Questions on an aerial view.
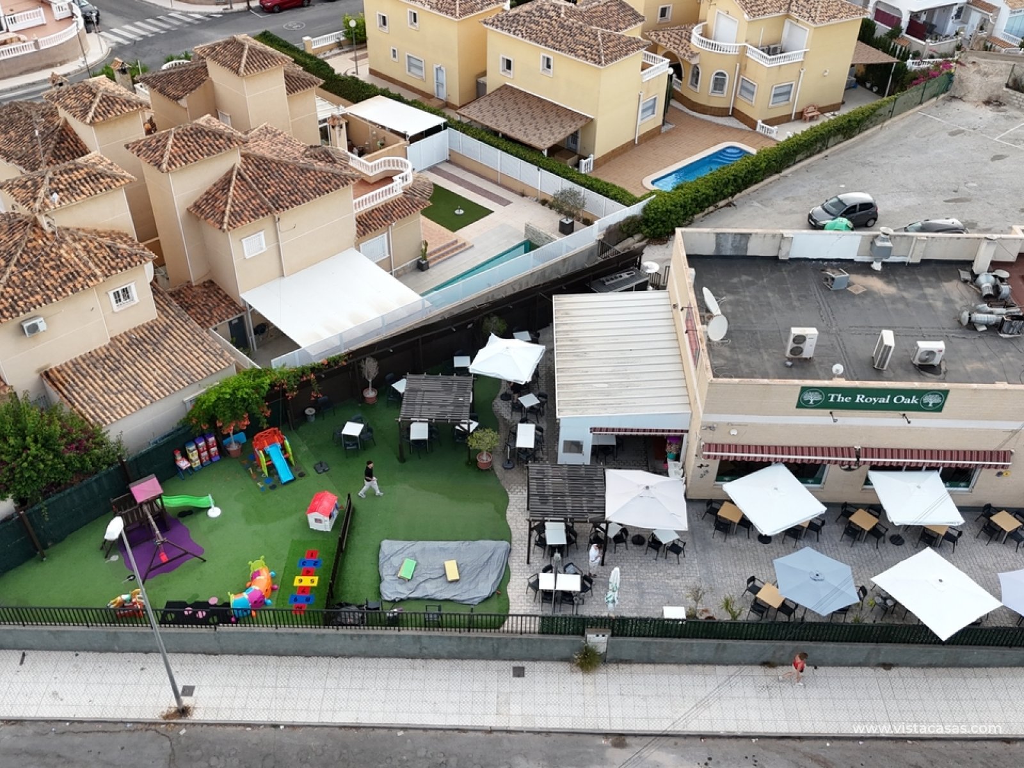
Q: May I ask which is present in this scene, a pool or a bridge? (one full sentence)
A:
Visible in the photo is a pool.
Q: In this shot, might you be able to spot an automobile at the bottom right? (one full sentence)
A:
No, no automobile appears at the bottom right.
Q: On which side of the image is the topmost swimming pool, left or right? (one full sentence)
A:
The topmost swimming pool appears in the right half of the scene.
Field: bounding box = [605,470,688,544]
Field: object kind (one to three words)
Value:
umbrella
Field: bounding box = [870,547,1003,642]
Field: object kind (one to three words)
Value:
umbrella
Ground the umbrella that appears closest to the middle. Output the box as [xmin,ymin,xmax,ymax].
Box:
[469,333,545,401]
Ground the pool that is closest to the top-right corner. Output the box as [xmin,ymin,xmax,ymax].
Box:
[644,139,754,195]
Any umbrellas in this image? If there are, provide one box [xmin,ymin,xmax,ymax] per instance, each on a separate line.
[722,464,827,546]
[870,547,1003,642]
[868,471,964,547]
[605,470,688,544]
[469,333,545,401]
[601,567,621,619]
[997,555,1024,626]
[773,547,858,623]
